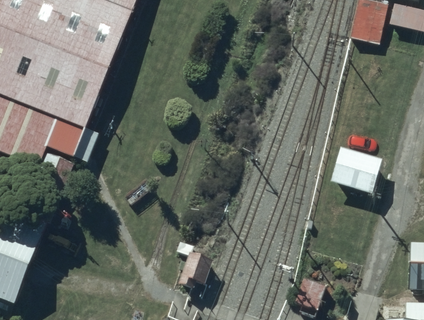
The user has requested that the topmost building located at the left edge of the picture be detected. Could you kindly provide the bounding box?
[0,0,136,129]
